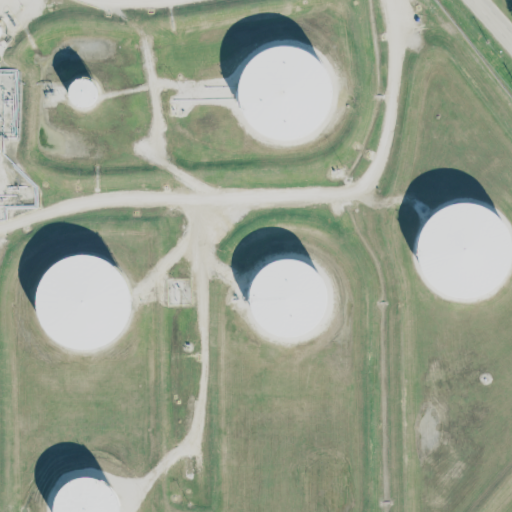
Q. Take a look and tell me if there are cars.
No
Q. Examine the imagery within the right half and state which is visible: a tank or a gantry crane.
tank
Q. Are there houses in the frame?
No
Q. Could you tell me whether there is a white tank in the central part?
Yes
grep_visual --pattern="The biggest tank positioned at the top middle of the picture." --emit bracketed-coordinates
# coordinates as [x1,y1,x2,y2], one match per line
[236,46,332,140]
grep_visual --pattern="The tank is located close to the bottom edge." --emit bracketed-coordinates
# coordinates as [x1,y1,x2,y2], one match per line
[50,476,118,512]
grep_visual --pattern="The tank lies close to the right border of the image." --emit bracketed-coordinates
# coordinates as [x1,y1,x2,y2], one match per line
[416,204,512,298]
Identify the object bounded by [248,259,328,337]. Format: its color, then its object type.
white storage tank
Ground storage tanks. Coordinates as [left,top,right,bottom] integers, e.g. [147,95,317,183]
[34,254,132,350]
[236,46,332,140]
[50,476,118,512]
[416,204,512,298]
[67,78,99,112]
[248,259,328,337]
